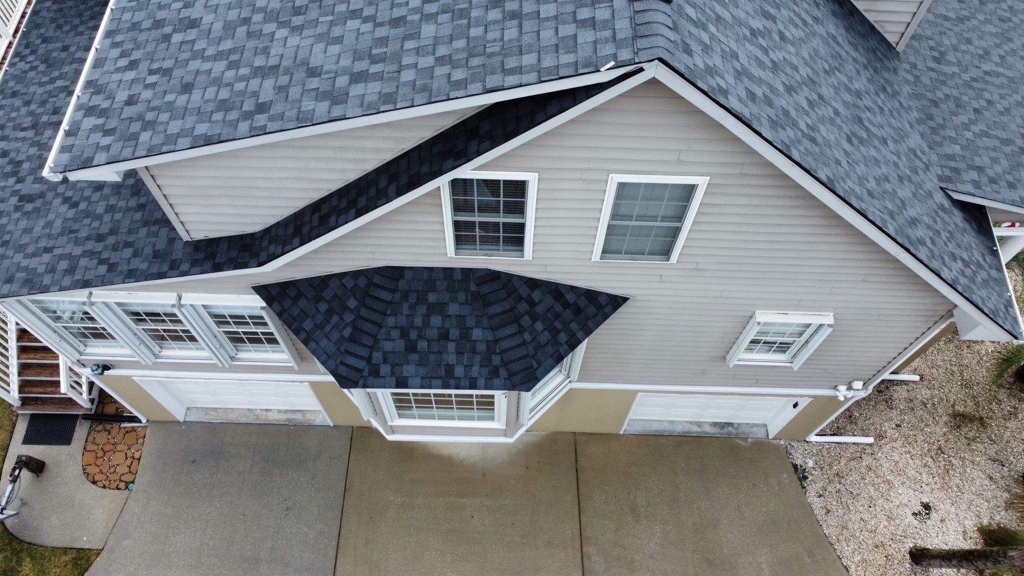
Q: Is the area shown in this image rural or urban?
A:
urban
